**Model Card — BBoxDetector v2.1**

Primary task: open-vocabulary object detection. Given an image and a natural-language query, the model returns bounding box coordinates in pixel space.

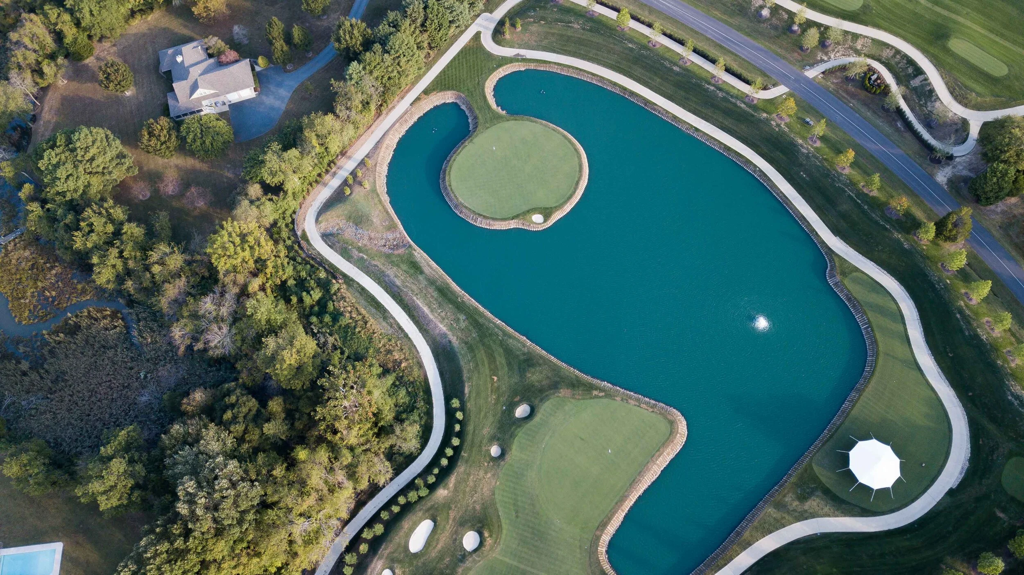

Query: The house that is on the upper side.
[159,41,257,124]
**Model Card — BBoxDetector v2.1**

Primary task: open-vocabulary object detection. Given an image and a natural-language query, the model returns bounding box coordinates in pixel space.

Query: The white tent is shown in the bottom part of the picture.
[836,433,905,501]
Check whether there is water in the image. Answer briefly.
Yes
